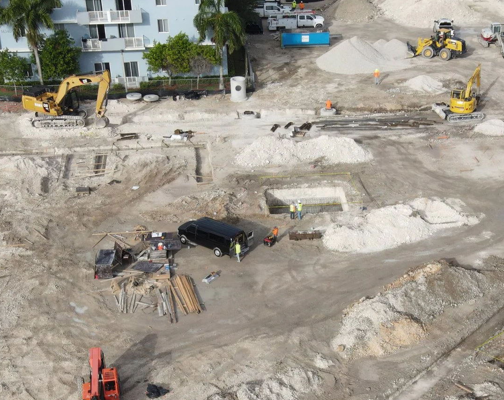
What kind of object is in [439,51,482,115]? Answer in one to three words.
work vehicle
